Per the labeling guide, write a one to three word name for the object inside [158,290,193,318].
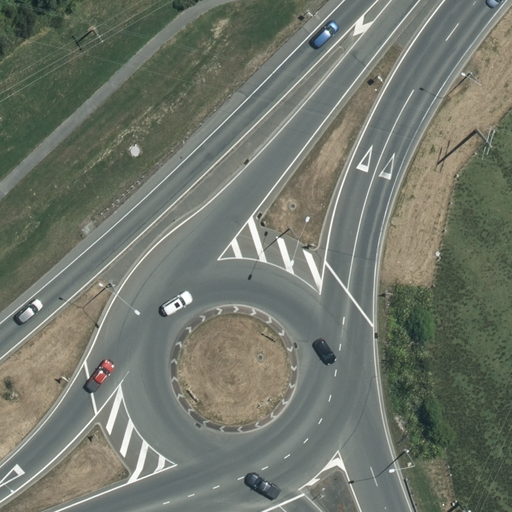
car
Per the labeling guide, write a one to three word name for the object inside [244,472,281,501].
truck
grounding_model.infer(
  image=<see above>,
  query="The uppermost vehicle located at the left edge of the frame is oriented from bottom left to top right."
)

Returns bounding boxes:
[13,298,43,326]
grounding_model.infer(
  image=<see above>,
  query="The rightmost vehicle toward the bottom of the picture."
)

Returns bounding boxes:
[313,336,336,366]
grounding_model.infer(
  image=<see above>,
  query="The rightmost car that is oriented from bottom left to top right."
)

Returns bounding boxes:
[310,20,338,50]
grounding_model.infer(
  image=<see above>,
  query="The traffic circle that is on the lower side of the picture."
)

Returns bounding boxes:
[124,258,344,478]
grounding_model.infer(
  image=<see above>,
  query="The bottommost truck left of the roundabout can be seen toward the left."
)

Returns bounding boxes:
[84,358,114,393]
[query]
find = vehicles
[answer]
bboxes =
[13,298,43,326]
[310,20,338,50]
[486,0,503,8]
[313,336,336,366]
[84,358,114,393]
[158,290,193,318]
[244,472,281,501]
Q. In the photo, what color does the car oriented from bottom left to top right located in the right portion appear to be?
blue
